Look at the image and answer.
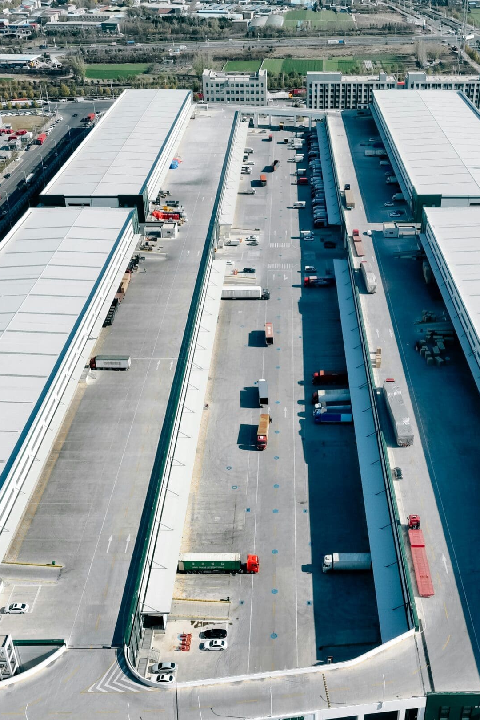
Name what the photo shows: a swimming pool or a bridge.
bridge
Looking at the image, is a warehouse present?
Yes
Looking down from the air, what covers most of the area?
paved ground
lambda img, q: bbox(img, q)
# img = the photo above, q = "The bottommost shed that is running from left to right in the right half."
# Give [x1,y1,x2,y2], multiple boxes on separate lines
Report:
[382,220,417,237]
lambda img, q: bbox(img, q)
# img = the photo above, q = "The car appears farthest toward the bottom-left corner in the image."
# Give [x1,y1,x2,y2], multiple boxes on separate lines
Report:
[6,601,34,614]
